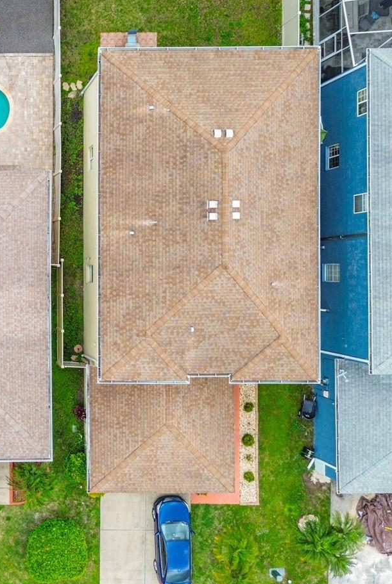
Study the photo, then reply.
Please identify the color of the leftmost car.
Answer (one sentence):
The leftmost car looks blue in the image.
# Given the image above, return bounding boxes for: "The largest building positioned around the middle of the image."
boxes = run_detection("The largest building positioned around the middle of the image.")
[73,48,319,495]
